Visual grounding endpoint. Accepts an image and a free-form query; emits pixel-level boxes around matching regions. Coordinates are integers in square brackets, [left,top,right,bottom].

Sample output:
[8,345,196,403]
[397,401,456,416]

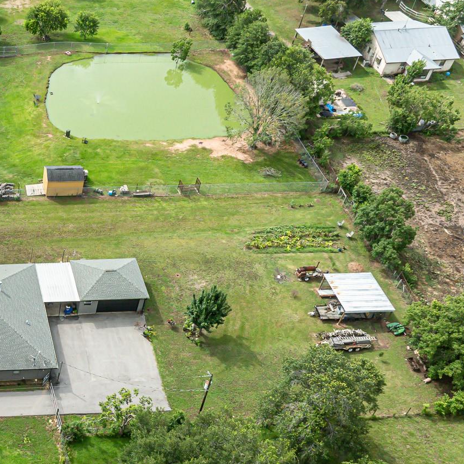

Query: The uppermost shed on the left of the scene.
[31,169,88,196]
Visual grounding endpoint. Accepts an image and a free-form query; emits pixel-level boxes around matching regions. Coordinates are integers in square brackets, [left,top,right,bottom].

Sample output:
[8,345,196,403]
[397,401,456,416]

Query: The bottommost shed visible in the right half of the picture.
[314,272,395,325]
